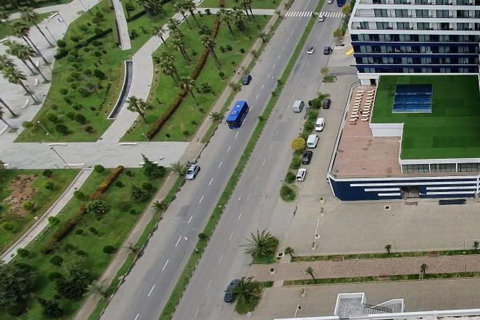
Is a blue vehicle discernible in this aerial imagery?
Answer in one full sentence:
Yes, there's a blue vehicle here.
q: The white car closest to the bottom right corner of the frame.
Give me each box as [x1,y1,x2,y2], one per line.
[295,168,307,182]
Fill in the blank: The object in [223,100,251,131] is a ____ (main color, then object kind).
blue bus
